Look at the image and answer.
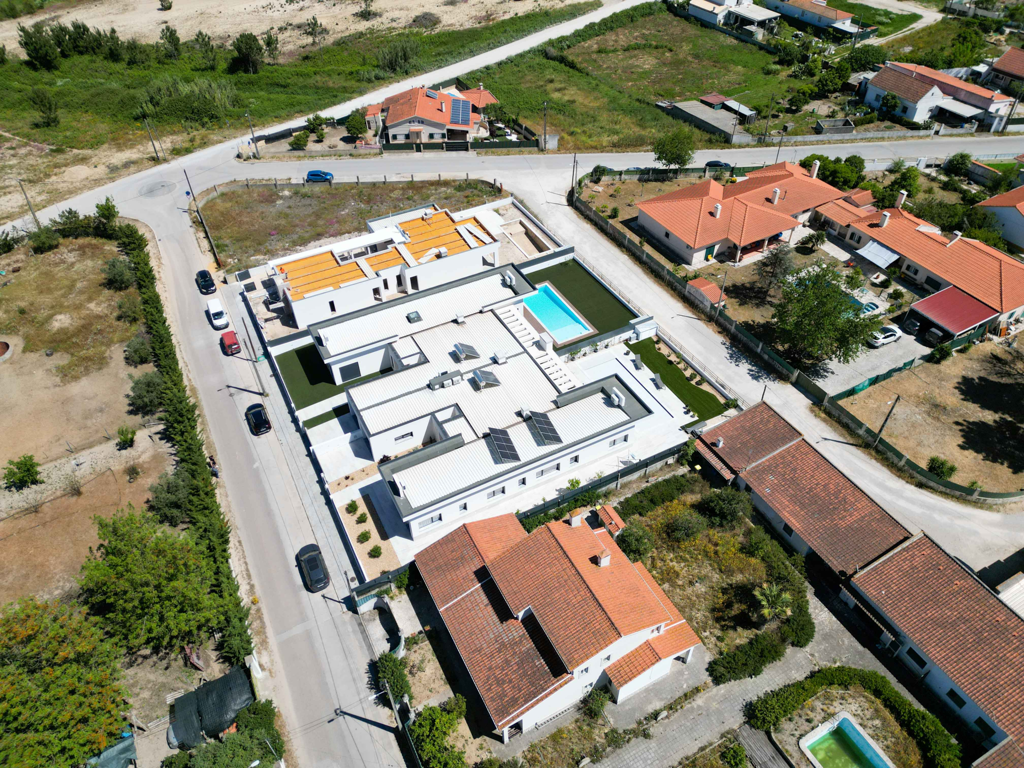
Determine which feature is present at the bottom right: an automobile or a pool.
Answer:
pool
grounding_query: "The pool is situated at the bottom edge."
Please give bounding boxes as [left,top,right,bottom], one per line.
[798,711,897,768]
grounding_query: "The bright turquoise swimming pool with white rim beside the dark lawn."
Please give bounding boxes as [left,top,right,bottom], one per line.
[524,284,600,348]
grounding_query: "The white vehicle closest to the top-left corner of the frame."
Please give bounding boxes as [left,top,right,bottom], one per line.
[201,293,230,331]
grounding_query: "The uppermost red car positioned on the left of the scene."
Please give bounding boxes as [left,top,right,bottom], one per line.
[218,331,242,358]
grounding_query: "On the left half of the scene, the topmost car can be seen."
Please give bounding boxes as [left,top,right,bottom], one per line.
[305,168,336,184]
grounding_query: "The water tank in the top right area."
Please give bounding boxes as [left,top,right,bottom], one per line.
[816,116,855,131]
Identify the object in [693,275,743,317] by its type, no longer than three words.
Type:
shed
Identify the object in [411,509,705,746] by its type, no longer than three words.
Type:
house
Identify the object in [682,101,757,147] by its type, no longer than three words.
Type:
shed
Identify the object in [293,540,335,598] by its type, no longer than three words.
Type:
car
